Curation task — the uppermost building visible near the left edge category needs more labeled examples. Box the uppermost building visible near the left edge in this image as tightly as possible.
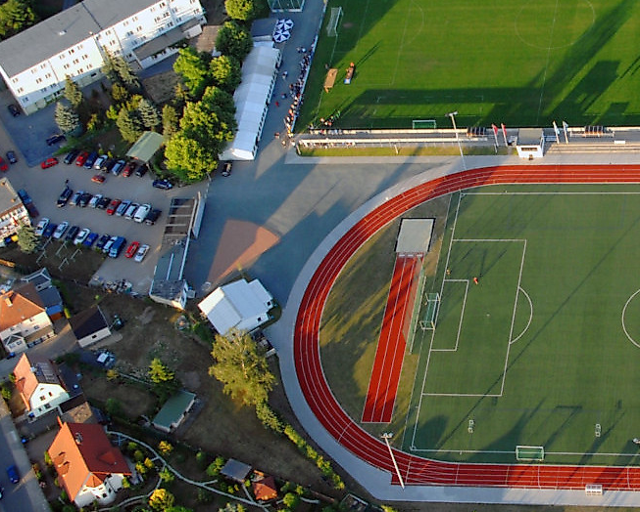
[0,0,206,116]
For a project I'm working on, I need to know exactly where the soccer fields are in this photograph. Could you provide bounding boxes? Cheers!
[295,0,640,136]
[399,183,640,466]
